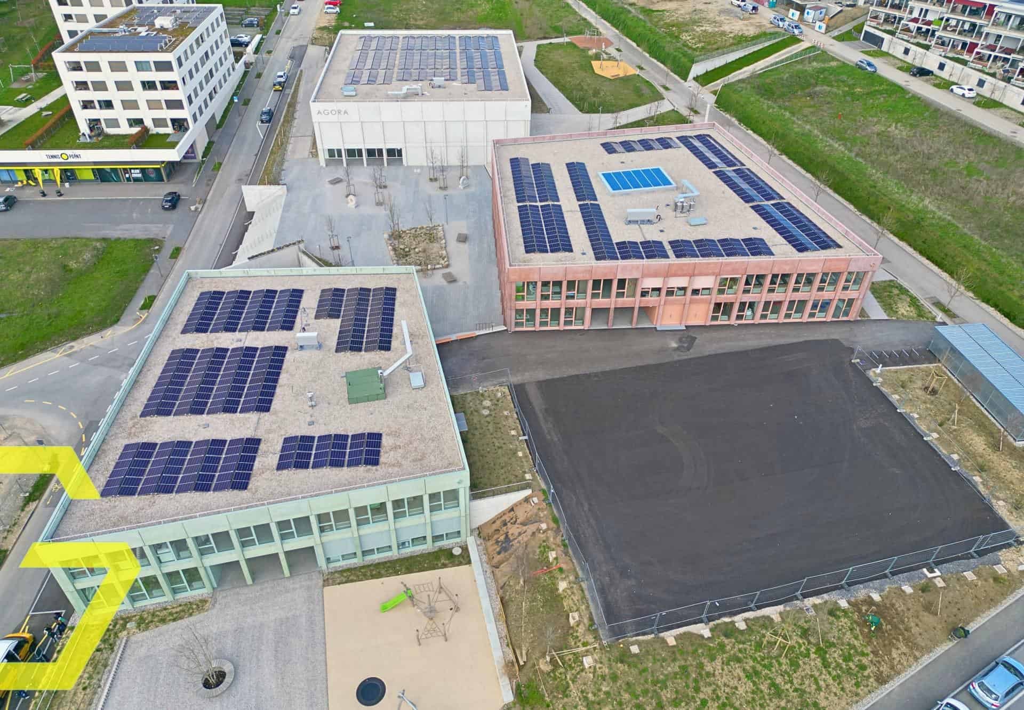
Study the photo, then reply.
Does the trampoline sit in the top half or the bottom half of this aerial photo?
bottom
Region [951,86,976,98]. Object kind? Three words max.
vehicle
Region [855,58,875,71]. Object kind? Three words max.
vehicle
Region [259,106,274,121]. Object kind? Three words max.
car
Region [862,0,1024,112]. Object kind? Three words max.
house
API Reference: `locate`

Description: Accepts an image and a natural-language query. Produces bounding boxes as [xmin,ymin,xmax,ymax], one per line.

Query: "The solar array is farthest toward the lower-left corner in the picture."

[100,437,262,499]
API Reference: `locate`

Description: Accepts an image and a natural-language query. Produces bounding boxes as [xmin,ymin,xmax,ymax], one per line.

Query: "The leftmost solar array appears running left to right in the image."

[73,37,168,52]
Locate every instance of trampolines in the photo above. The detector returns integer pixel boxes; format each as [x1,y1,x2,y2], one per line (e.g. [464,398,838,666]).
[351,673,391,710]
